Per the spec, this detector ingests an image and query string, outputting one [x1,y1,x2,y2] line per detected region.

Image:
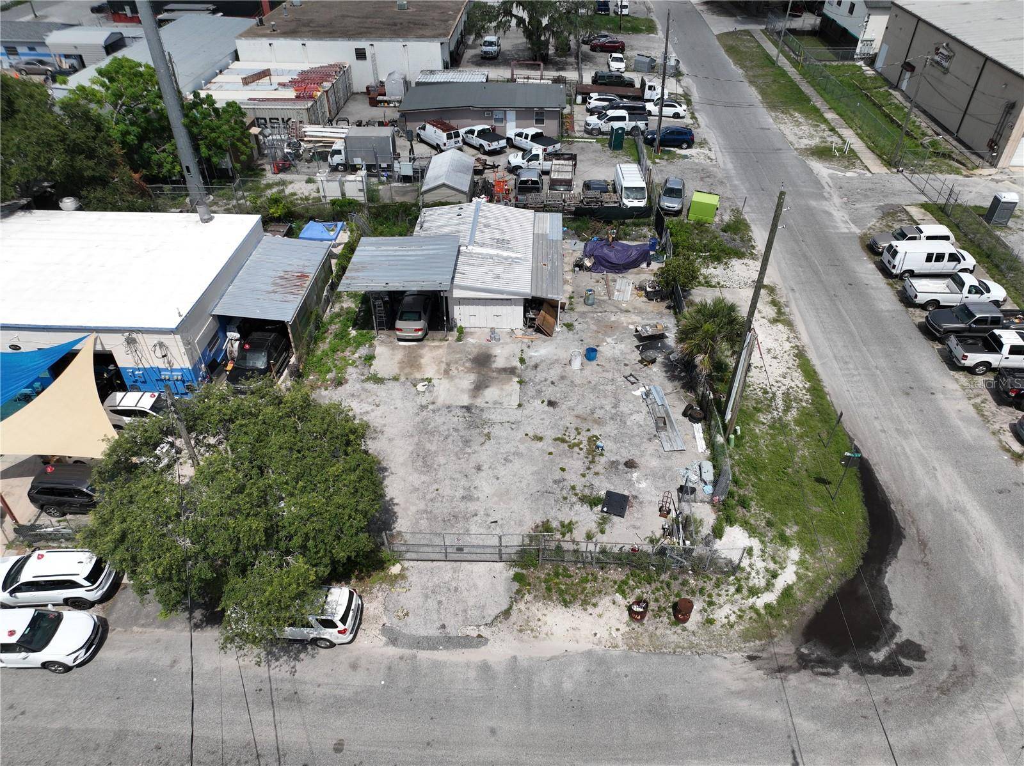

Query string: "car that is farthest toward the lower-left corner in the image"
[0,599,107,672]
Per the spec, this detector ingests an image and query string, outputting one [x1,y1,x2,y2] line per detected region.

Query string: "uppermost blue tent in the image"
[300,222,346,248]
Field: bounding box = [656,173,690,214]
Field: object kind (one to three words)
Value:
car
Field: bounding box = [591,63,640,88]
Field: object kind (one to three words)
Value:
car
